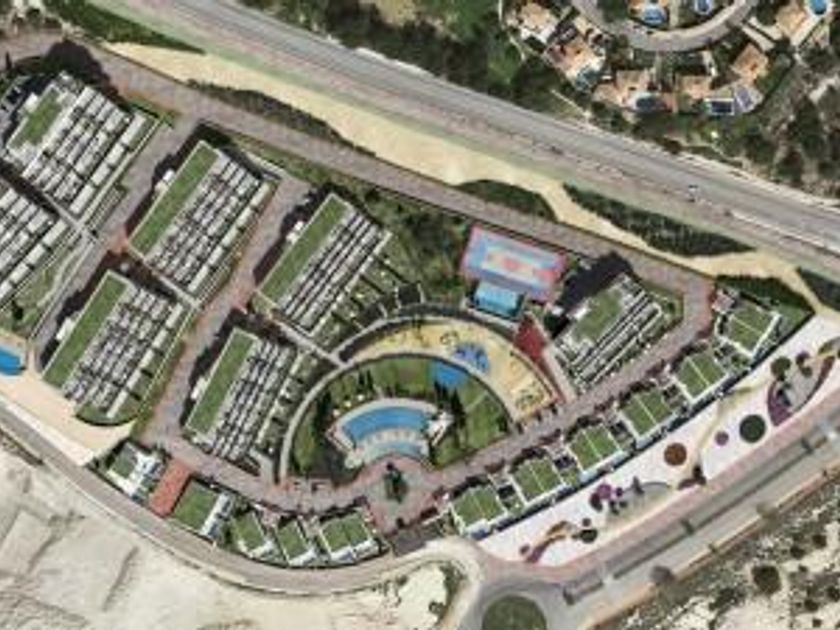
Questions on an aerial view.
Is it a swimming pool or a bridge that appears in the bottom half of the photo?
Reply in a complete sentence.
The one visible in the bottom half of the photo is a swimming pool.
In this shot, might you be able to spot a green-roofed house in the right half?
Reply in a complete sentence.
Yes, a green-roofed house appears in the right half.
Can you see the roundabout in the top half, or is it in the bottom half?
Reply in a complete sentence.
The bottom half of the photo is where the roundabout is.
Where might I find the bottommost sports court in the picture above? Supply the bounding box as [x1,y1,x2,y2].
[472,281,524,319]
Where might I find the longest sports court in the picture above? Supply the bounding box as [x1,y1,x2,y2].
[459,223,566,303]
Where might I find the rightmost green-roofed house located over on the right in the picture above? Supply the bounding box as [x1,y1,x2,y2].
[717,291,787,361]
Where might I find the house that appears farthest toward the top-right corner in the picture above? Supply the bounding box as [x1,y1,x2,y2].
[769,2,818,48]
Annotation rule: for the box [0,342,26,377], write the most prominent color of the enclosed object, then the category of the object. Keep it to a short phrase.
blue swimming pool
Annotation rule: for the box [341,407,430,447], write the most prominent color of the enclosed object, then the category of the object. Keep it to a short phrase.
blue swimming pool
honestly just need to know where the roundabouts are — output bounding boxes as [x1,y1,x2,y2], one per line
[457,571,571,630]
